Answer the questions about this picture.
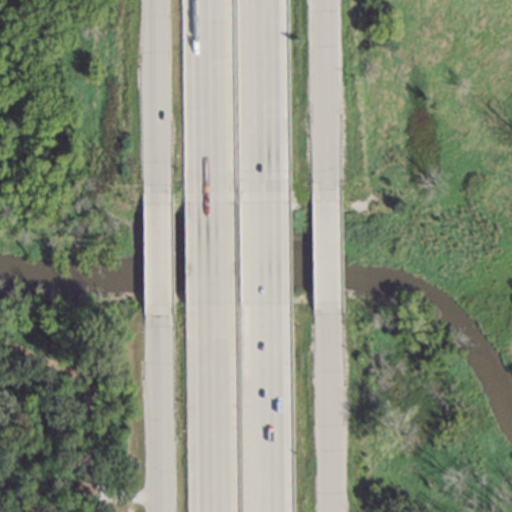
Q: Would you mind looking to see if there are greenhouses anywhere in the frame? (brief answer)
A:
No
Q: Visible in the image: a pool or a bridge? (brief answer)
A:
bridge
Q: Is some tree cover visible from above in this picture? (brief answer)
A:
Yes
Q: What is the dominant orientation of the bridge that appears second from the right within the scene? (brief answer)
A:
up and down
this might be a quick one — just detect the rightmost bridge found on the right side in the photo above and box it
[312,191,344,311]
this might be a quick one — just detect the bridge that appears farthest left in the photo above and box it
[144,190,176,317]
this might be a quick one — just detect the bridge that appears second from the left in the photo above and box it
[184,192,236,306]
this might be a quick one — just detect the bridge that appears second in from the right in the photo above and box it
[240,192,292,306]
